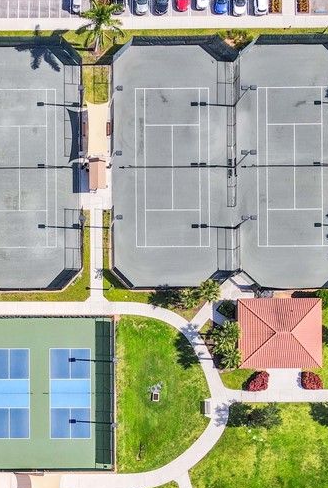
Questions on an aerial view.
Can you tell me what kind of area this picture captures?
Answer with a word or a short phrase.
sports ground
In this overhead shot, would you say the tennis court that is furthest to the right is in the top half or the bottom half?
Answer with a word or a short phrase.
top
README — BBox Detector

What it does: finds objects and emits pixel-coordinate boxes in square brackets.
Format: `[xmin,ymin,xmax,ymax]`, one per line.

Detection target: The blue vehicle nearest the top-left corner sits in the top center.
[155,0,170,13]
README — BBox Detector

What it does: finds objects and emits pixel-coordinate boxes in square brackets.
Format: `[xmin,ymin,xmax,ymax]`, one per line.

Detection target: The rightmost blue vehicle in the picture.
[214,0,228,12]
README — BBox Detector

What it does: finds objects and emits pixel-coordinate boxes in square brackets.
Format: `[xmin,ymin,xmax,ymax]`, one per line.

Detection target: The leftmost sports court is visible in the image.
[0,348,34,439]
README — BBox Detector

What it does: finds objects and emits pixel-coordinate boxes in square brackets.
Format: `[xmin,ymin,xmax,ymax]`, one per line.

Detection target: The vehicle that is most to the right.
[254,0,270,14]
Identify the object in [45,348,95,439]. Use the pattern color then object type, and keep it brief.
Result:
blue sports court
